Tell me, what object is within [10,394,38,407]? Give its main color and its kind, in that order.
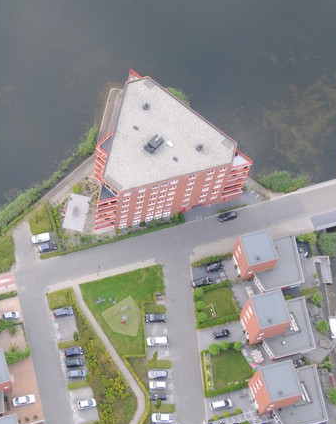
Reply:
white vehicle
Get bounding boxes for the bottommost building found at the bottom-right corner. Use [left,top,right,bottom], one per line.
[251,359,329,424]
